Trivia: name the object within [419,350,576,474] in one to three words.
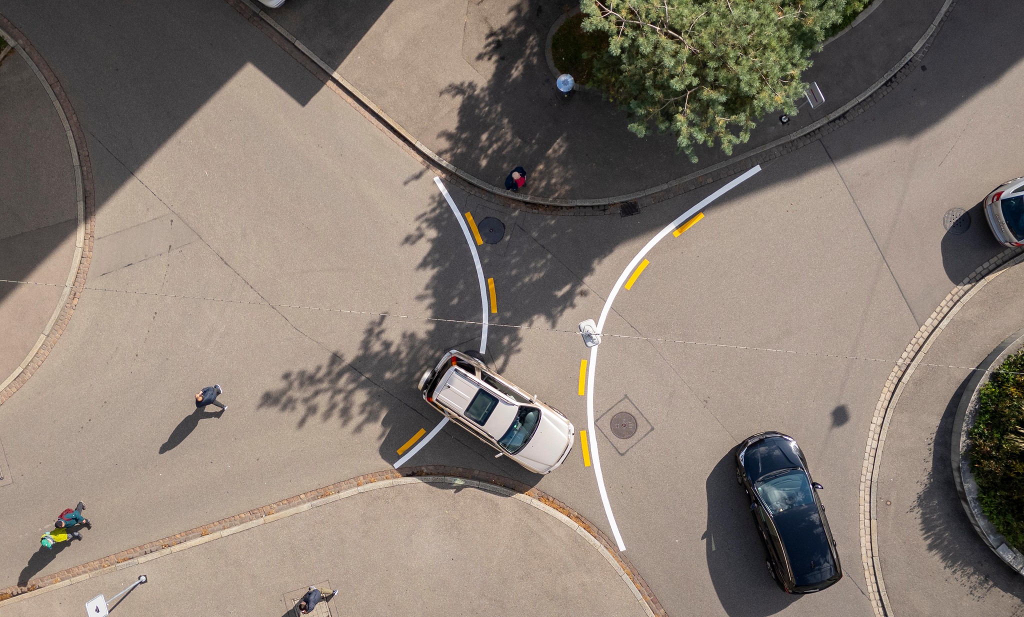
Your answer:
car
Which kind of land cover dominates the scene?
paved ground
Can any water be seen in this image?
No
